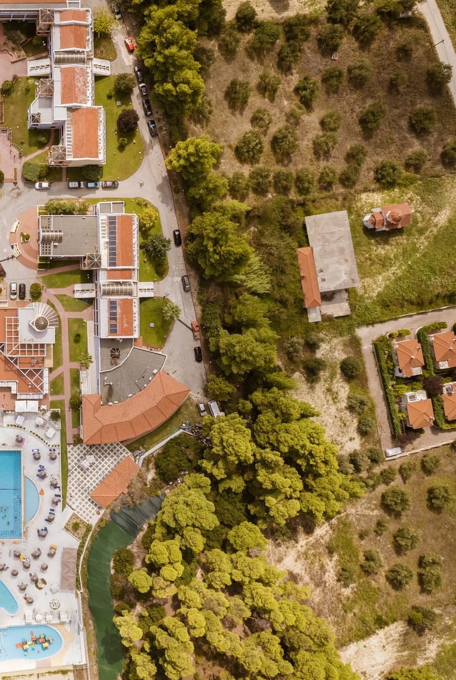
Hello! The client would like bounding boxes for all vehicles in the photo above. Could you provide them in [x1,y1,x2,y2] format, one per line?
[193,347,201,363]
[134,65,144,82]
[178,319,200,340]
[182,275,190,291]
[124,37,134,52]
[172,230,181,246]
[19,283,25,300]
[0,263,7,278]
[197,401,206,415]
[142,99,152,116]
[10,283,16,300]
[384,448,400,456]
[207,399,218,416]
[102,182,118,189]
[86,182,101,189]
[35,183,50,190]
[68,182,83,189]
[147,120,156,136]
[139,83,148,98]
